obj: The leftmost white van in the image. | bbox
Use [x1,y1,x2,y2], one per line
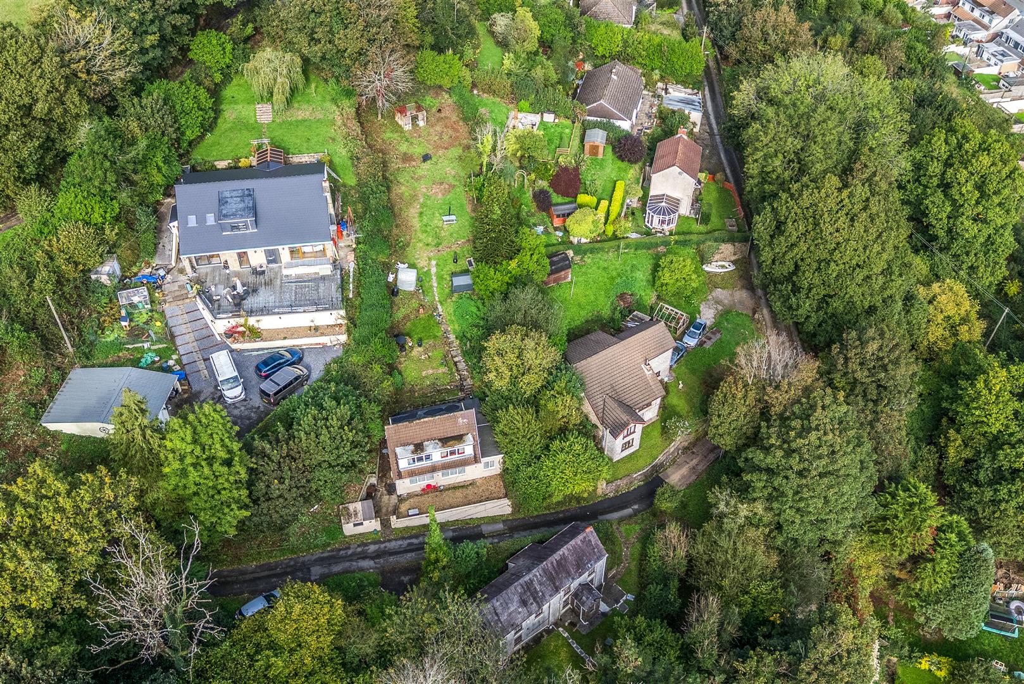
[208,350,242,398]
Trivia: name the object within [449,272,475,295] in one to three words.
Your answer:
shed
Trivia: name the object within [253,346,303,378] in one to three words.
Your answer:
car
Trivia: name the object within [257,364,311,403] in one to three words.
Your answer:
van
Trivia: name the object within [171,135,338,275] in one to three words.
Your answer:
house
